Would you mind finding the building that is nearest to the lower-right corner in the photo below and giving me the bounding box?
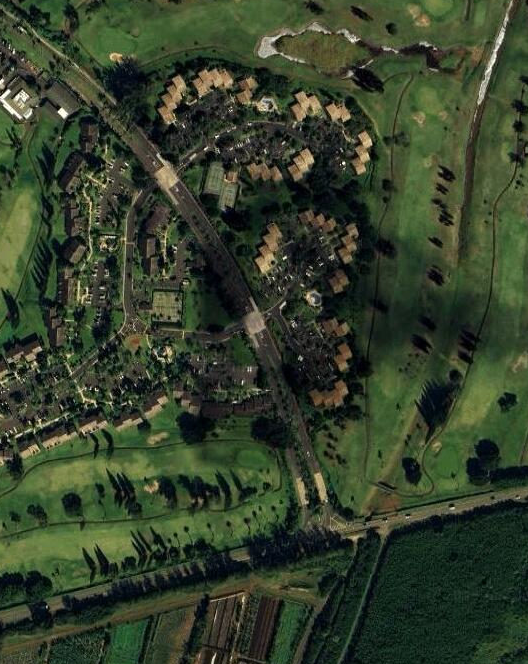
[308,379,348,408]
